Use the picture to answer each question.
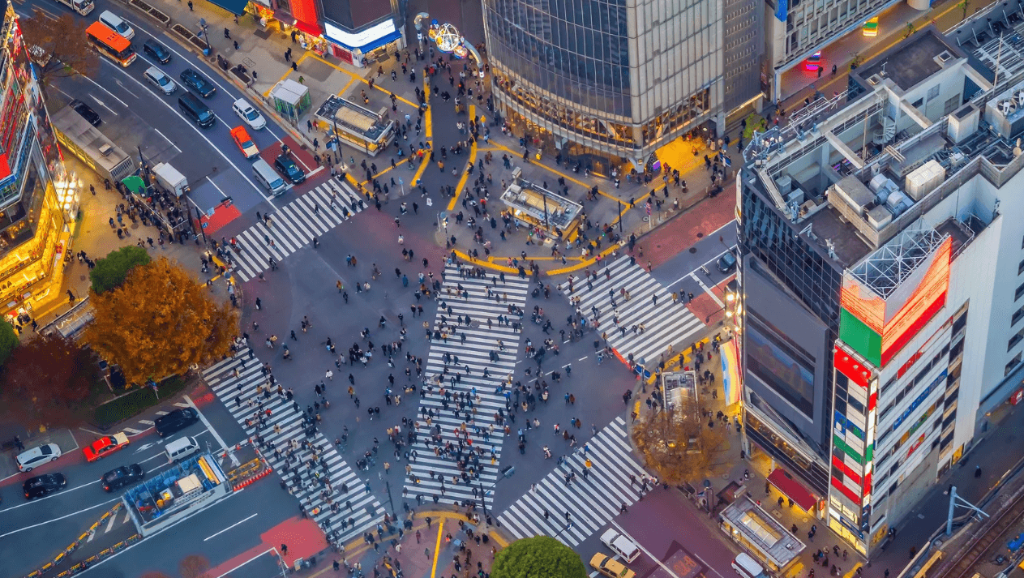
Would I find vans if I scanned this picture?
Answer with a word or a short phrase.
Yes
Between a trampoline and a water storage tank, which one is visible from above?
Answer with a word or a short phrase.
water storage tank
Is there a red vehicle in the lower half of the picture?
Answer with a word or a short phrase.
Yes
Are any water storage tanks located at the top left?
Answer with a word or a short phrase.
No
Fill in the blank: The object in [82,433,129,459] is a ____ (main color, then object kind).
red car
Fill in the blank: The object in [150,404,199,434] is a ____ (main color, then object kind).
black vehicle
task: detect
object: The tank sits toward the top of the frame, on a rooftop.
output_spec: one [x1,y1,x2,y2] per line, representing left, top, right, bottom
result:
[906,160,945,205]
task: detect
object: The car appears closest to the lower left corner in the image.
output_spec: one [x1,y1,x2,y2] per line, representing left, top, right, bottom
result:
[19,470,67,497]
